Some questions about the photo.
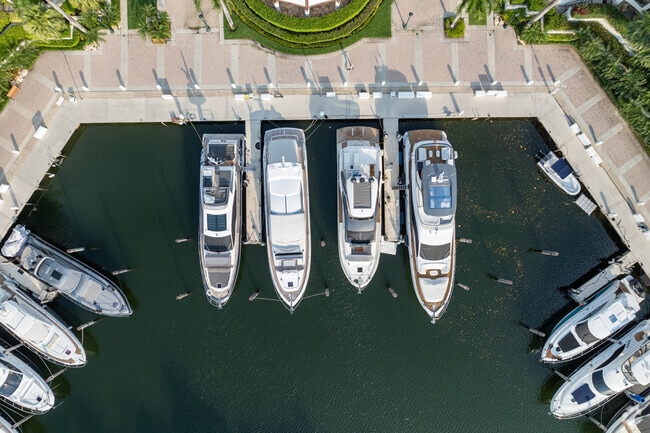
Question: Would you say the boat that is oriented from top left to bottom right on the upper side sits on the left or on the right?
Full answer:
The boat that is oriented from top left to bottom right on the upper side sits on the right side.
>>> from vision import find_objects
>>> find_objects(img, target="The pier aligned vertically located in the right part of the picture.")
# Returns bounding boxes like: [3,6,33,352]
[381,120,402,241]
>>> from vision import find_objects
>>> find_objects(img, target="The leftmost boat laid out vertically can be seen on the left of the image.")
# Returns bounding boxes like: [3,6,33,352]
[199,133,246,312]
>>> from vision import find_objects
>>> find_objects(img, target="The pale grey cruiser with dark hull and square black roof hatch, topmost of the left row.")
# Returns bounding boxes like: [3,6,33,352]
[18,232,135,316]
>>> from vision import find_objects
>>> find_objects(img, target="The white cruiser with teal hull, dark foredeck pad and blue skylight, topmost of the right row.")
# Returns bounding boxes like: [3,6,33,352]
[537,270,649,364]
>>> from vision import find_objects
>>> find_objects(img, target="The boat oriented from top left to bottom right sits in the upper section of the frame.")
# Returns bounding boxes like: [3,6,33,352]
[534,149,582,192]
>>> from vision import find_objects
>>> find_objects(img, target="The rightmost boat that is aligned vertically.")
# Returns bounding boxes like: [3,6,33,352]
[399,131,456,323]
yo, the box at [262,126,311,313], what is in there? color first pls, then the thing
white boat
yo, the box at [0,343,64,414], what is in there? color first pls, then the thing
white boat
